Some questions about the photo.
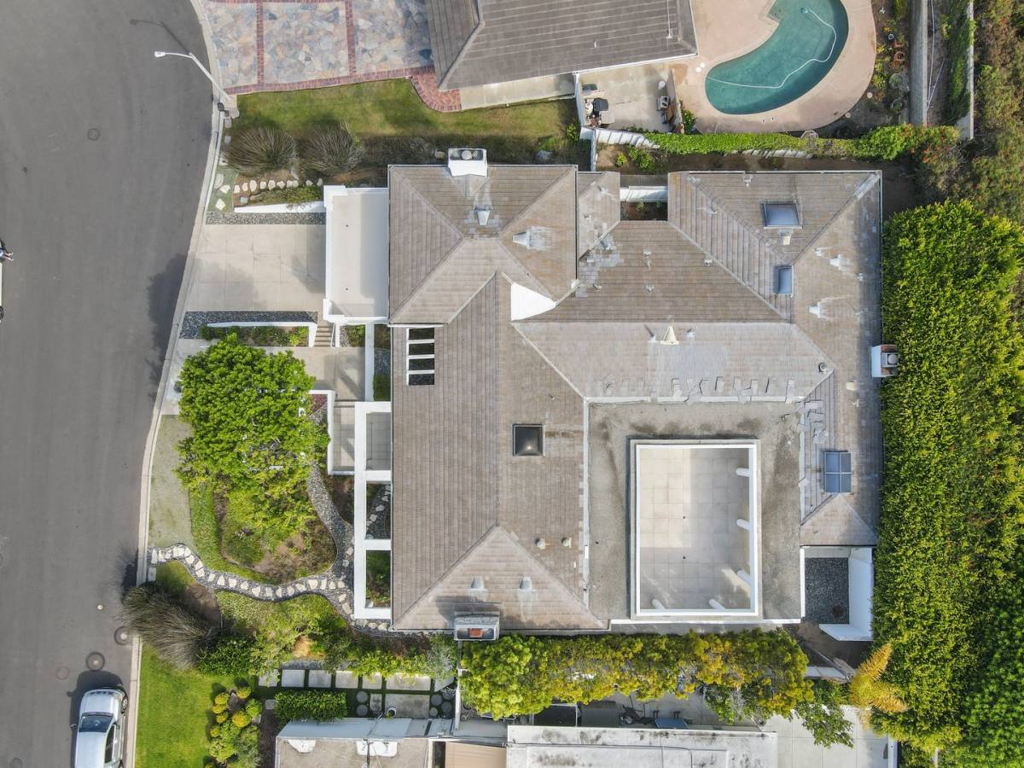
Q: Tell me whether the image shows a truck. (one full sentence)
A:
No, the scene contains no truck.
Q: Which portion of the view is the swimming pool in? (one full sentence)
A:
The swimming pool is in the top right part of the image.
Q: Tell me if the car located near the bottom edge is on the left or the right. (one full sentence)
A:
The car located near the bottom edge appears in the left half of the scene.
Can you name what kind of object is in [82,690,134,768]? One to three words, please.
car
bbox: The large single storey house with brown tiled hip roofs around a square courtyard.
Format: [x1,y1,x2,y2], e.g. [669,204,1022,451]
[386,148,900,639]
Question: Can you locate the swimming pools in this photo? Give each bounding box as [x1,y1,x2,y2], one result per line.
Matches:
[699,0,856,121]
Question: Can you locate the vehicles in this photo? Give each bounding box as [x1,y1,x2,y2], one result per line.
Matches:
[0,244,8,328]
[82,690,134,768]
